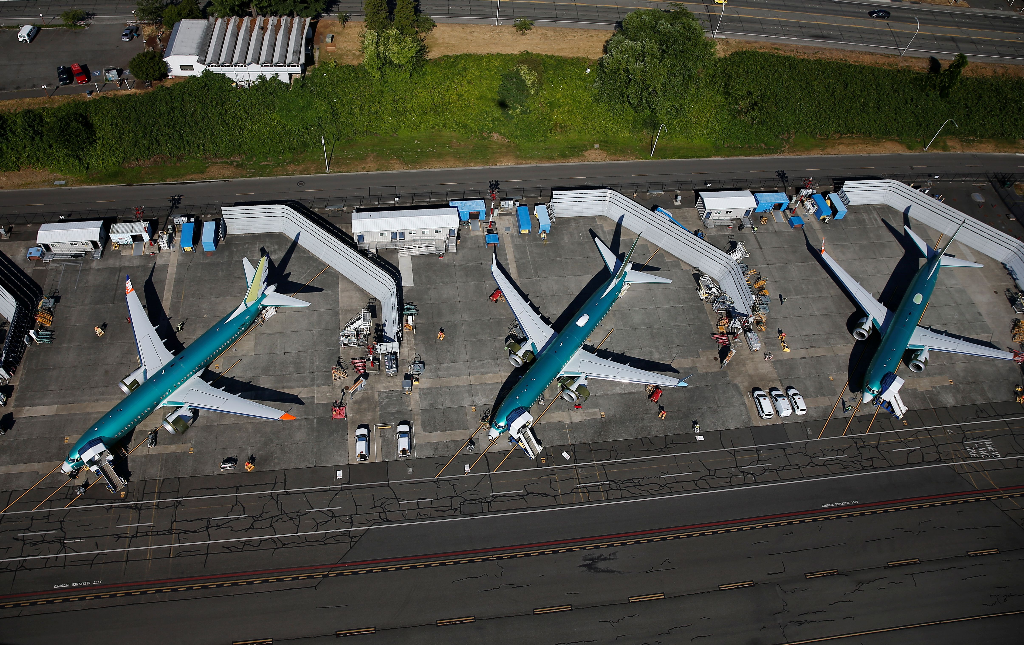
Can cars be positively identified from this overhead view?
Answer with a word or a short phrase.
Yes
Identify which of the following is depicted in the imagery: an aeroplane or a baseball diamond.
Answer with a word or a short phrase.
aeroplane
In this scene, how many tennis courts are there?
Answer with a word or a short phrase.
0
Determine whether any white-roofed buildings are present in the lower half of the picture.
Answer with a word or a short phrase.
No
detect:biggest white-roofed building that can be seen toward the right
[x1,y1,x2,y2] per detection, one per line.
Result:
[697,190,757,218]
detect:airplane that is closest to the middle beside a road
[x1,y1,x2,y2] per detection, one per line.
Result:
[490,231,693,439]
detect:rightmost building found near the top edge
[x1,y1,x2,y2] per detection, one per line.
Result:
[164,15,311,87]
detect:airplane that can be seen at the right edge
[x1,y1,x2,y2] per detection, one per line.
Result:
[815,219,1024,403]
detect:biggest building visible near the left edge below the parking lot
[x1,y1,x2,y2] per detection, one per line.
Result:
[36,220,108,252]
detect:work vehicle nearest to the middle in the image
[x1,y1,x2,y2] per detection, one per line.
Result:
[486,285,503,302]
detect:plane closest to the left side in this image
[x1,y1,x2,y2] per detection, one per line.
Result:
[60,253,311,474]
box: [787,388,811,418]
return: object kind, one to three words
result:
car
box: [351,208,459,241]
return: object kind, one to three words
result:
building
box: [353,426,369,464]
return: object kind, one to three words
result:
vehicle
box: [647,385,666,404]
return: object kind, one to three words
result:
work vehicle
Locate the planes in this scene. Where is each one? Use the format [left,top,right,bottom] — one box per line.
[60,253,311,474]
[815,219,1024,403]
[490,231,693,439]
